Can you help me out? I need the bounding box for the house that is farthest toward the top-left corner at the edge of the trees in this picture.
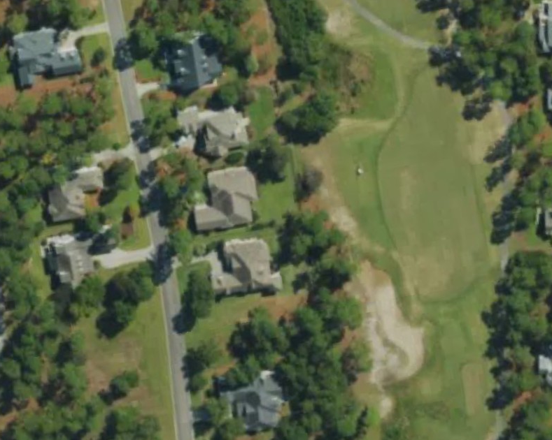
[11,25,83,86]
